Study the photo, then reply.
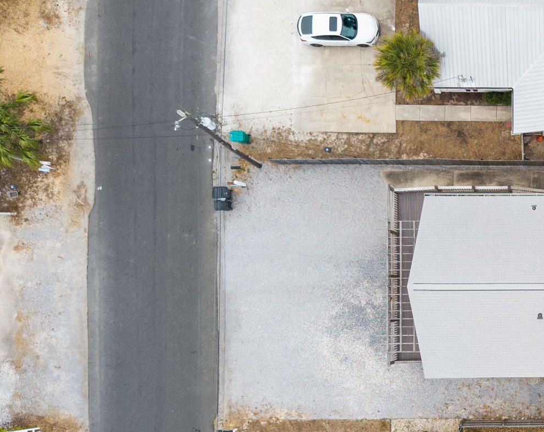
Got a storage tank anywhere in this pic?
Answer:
No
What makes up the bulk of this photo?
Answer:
paved ground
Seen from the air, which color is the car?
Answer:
white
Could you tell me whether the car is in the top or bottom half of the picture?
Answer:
top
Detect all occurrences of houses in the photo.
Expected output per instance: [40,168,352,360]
[407,190,544,378]
[417,0,544,136]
